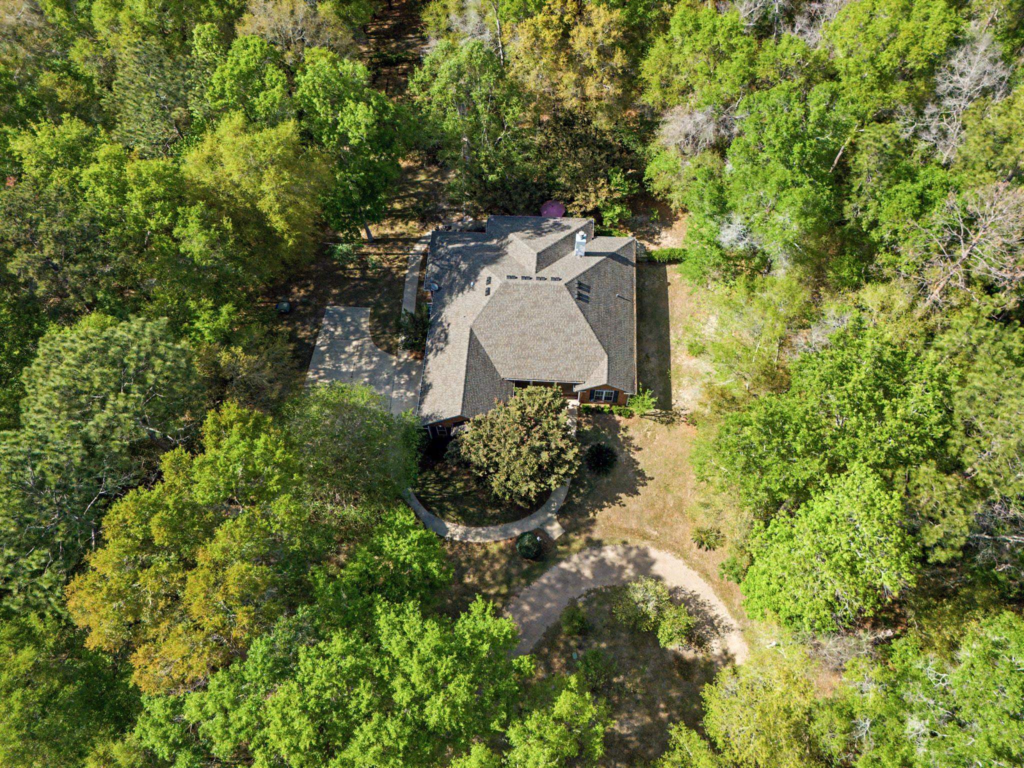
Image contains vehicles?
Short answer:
No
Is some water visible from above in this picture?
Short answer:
No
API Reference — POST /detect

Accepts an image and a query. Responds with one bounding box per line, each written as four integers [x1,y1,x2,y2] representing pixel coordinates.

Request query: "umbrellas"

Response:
[540,200,565,217]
